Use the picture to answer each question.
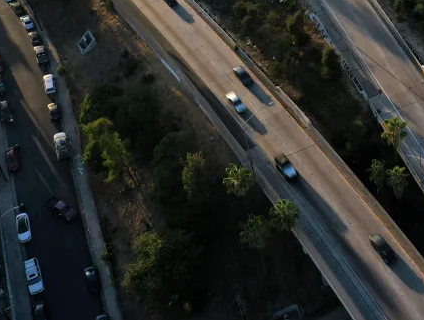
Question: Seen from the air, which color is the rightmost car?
black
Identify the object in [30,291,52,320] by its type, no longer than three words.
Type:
car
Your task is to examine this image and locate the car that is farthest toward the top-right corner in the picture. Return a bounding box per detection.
[229,64,254,88]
